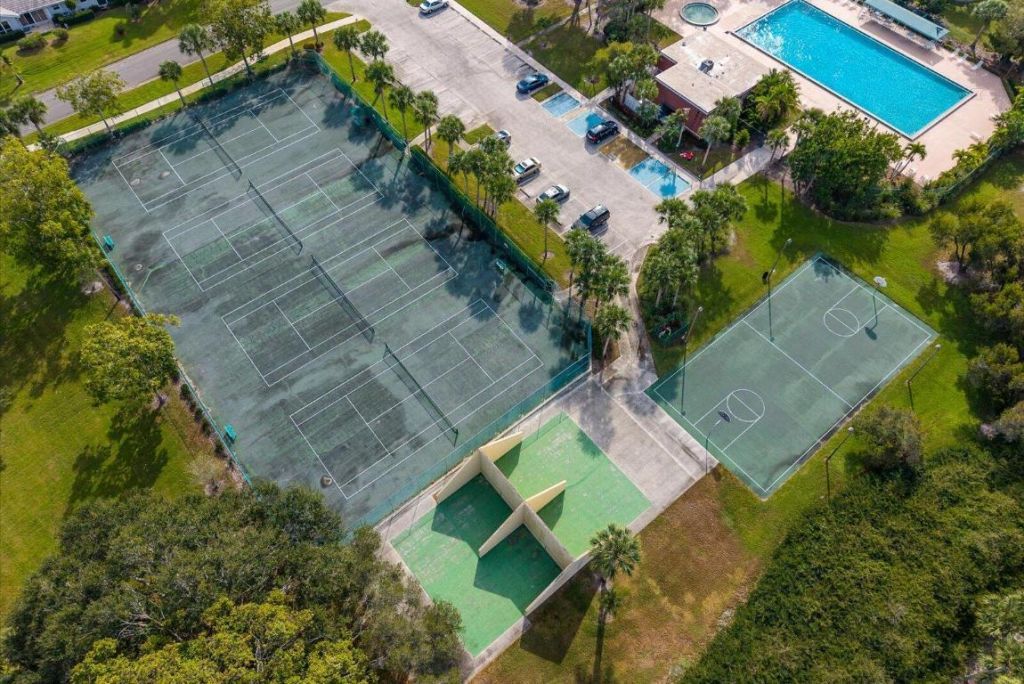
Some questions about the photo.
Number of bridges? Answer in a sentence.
The count of bridges is 0.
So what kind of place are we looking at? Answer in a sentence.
This image shows a sports ground.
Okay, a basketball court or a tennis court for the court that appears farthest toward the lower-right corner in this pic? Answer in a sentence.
From above, the court that appears farthest toward the lower-right corner can be identified as a basketball court.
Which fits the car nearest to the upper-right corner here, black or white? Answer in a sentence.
From above, the car nearest to the upper-right corner appears black.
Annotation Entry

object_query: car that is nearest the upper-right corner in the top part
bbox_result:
[586,122,621,146]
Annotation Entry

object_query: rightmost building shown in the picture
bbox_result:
[862,0,951,54]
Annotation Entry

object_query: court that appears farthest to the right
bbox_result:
[642,250,943,503]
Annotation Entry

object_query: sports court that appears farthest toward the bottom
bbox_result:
[389,412,651,655]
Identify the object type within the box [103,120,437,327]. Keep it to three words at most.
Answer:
tennis court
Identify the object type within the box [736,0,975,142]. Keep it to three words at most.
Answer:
swimming pool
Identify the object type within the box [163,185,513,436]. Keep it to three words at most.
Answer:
tennis court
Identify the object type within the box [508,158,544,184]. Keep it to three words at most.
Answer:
car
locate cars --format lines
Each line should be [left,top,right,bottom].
[533,183,570,209]
[420,0,451,17]
[481,130,515,154]
[586,122,621,146]
[518,74,550,94]
[508,158,544,184]
[572,201,613,231]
